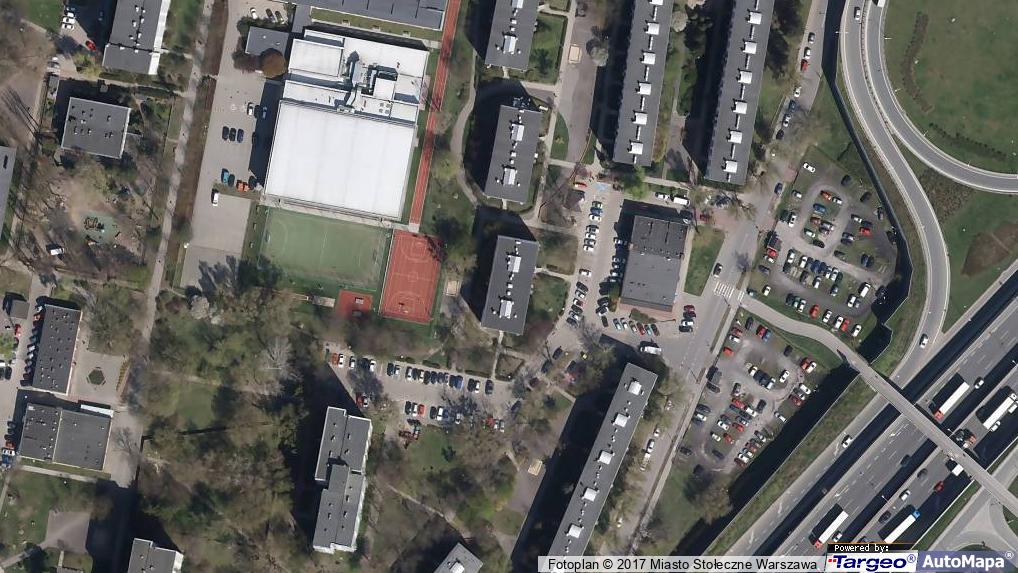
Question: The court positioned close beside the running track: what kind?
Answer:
basketball court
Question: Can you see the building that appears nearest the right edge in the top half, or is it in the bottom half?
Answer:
top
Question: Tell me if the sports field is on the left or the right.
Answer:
left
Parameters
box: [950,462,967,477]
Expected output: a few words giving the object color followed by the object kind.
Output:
white vehicle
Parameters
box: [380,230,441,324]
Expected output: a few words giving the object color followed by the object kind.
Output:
red basketball court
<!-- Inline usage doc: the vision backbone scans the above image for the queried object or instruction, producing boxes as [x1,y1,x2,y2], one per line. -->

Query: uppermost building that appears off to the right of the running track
[485,0,543,75]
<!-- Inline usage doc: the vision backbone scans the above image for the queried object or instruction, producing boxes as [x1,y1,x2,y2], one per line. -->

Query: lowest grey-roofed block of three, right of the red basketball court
[481,236,541,335]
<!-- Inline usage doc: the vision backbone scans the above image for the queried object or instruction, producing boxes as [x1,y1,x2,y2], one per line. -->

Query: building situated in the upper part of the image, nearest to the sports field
[264,30,430,224]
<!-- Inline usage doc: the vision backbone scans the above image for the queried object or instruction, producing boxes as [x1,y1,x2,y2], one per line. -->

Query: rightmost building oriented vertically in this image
[702,0,776,186]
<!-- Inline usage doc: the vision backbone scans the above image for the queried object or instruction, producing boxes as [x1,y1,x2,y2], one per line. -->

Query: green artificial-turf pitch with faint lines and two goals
[257,209,391,291]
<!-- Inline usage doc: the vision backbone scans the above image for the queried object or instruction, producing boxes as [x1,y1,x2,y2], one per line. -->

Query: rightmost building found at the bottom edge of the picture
[540,363,659,573]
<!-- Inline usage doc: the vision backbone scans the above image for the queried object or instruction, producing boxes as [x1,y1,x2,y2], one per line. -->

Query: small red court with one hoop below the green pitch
[334,290,373,319]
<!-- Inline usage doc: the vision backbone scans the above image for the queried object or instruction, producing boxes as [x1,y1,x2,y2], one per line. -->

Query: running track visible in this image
[409,0,460,232]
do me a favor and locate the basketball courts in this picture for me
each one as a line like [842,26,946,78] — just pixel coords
[380,230,441,324]
[334,290,373,319]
